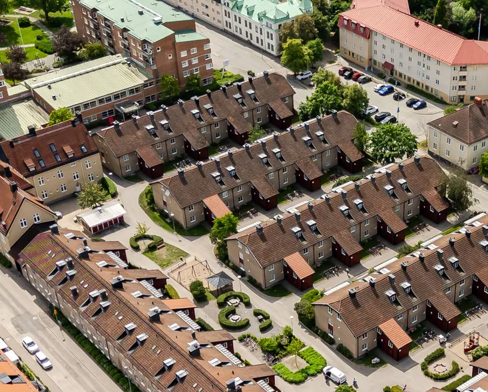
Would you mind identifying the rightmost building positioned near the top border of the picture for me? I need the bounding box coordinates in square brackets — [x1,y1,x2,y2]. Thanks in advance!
[340,0,488,100]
